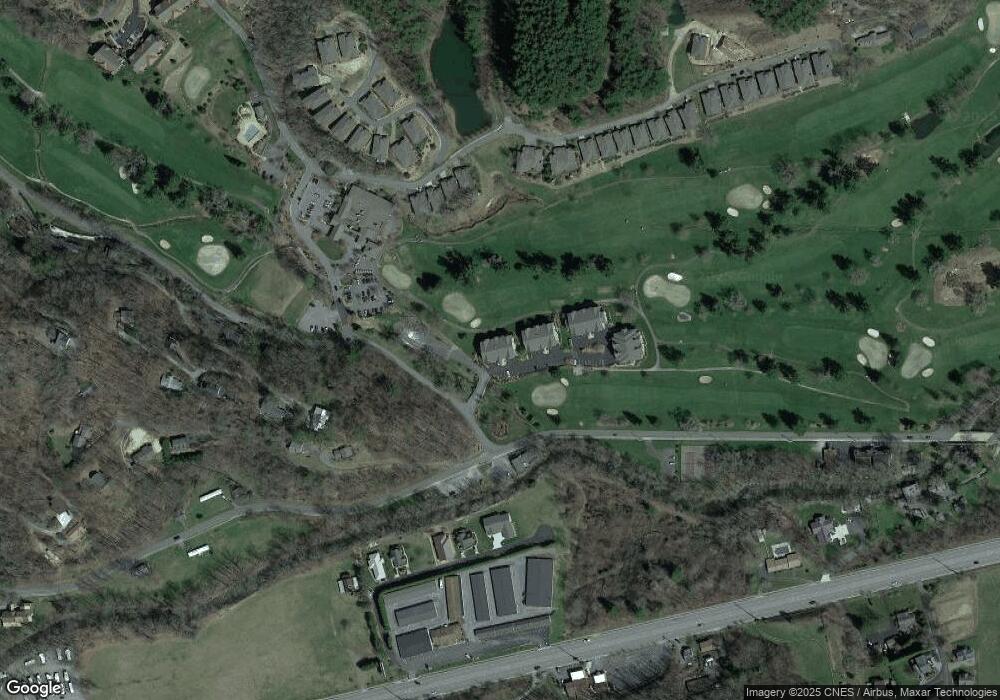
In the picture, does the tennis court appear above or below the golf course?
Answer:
below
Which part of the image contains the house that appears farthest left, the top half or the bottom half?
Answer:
bottom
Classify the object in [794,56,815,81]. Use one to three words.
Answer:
house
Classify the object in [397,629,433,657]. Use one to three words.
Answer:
building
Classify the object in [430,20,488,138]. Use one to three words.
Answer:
pond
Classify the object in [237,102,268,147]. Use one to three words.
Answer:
swimming pool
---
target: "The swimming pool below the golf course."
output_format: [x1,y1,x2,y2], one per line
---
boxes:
[771,542,791,557]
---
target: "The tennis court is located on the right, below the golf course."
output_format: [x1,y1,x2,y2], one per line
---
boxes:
[681,445,718,481]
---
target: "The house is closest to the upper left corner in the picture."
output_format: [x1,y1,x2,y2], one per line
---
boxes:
[95,44,125,73]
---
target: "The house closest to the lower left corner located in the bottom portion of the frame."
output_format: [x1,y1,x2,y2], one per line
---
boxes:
[1,603,33,626]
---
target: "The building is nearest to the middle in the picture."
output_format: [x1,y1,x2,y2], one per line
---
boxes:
[482,334,519,363]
